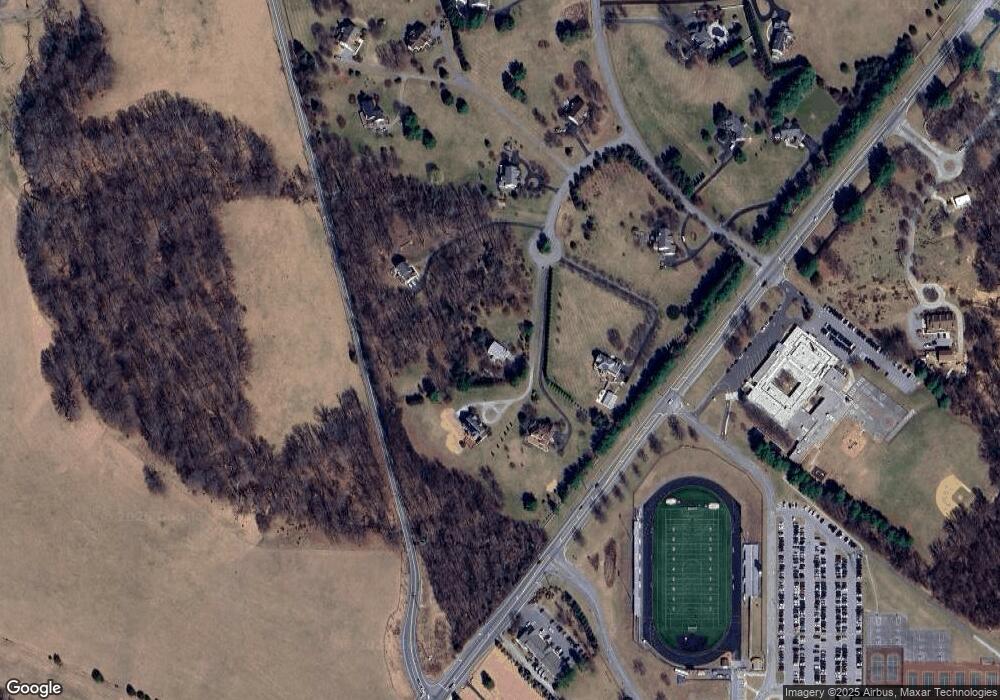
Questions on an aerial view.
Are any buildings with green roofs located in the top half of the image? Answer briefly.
No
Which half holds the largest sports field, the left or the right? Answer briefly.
right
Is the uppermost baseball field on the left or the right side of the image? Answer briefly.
right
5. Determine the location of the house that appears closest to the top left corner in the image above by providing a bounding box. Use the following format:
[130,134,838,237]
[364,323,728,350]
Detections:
[340,21,362,50]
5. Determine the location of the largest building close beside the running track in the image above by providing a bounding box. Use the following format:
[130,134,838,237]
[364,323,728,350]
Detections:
[745,323,856,465]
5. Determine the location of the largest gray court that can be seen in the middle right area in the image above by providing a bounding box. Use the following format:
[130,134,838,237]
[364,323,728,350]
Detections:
[845,376,911,441]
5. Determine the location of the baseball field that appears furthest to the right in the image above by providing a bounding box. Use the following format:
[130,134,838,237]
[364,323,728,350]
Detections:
[936,472,977,519]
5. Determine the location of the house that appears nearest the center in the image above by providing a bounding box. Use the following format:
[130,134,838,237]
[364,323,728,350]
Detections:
[487,338,514,363]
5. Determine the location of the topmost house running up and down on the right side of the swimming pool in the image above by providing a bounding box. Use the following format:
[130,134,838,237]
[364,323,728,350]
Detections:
[770,19,792,58]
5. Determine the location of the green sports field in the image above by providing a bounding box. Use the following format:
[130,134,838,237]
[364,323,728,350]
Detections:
[653,486,730,653]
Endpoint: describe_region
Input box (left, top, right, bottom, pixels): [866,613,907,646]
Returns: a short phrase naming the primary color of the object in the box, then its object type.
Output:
gray basketball court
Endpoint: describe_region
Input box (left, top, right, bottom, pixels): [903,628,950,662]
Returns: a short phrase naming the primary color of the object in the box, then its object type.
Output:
gray basketball court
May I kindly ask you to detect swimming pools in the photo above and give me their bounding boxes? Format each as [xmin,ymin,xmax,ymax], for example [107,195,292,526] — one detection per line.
[707,21,729,41]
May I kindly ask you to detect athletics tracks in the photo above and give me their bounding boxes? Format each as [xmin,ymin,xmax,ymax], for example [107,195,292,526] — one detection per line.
[643,477,741,667]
